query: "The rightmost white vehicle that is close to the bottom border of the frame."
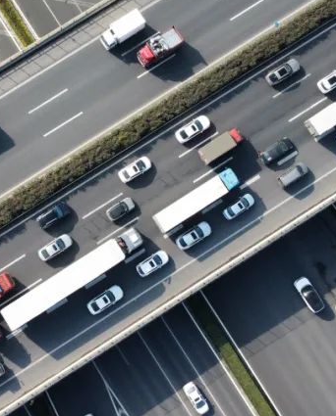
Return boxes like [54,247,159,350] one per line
[183,381,208,415]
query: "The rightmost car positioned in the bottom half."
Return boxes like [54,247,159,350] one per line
[295,277,324,314]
